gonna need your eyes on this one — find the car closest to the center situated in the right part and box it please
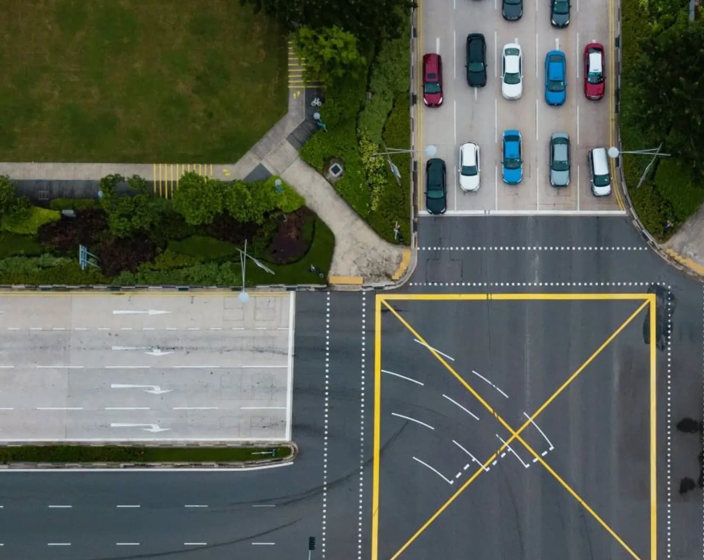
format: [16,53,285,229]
[422,156,449,212]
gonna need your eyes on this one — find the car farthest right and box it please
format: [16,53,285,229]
[582,41,607,98]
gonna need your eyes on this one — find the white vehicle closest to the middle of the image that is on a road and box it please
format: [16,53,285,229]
[457,138,481,190]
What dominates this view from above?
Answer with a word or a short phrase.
paved ground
